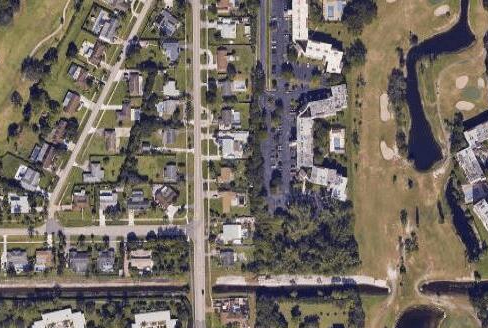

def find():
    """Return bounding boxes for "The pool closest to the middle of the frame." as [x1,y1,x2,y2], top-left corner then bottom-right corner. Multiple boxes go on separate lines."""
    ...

[330,130,345,153]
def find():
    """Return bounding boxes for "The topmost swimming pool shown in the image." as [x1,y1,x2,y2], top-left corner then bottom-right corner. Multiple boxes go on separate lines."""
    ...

[323,0,345,20]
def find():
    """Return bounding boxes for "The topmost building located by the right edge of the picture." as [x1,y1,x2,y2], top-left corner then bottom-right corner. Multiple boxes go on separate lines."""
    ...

[464,121,488,149]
